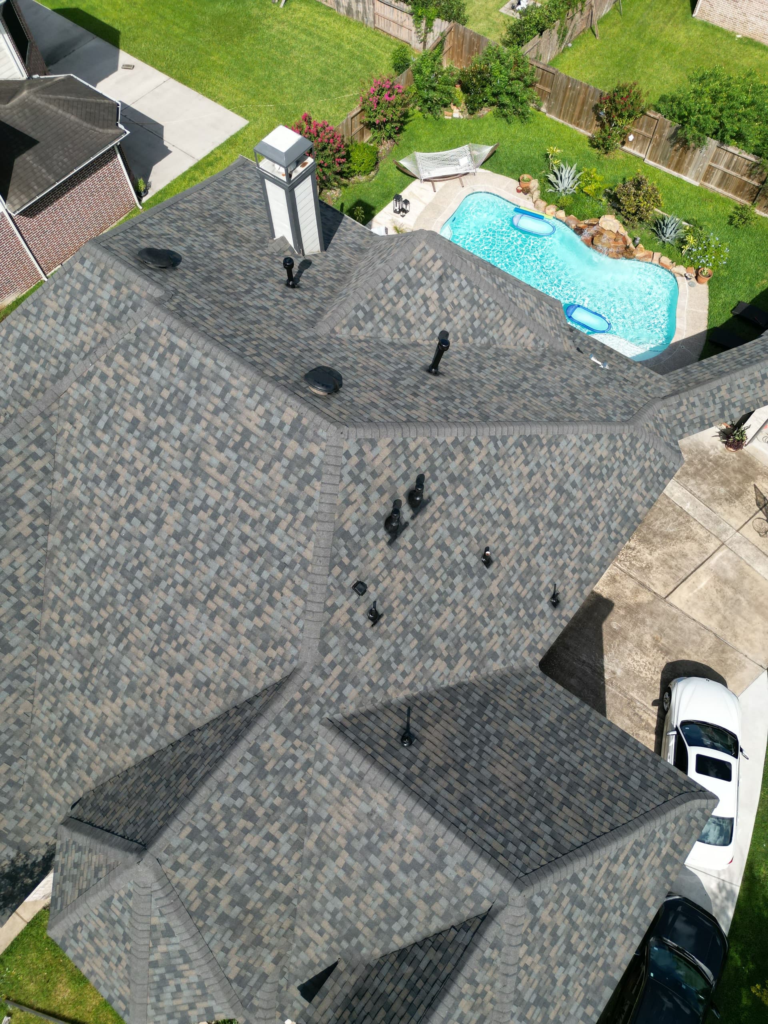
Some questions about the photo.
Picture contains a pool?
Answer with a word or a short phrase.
Yes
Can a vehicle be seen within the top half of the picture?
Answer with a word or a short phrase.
No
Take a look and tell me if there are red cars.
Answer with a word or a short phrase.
No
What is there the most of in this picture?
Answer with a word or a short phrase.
buildings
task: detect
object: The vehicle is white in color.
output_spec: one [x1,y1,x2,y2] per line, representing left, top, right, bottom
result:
[661,678,759,871]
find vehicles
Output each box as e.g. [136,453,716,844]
[661,678,759,871]
[590,885,732,1024]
